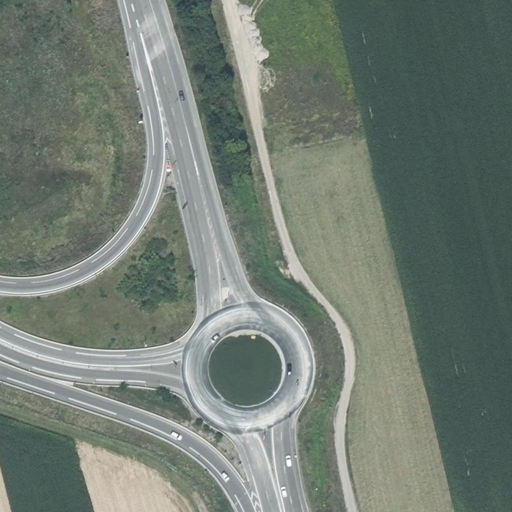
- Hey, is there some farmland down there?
Yes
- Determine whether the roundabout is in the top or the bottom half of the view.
bottom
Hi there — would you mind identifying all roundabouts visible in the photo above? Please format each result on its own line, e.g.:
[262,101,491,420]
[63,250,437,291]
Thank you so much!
[182,300,314,434]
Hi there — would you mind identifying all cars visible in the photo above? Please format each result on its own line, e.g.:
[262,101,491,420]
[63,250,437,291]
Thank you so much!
[286,364,292,375]
[211,332,220,342]
[281,486,287,498]
[220,472,230,482]
[178,90,184,101]
[286,456,292,468]
[170,431,182,440]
